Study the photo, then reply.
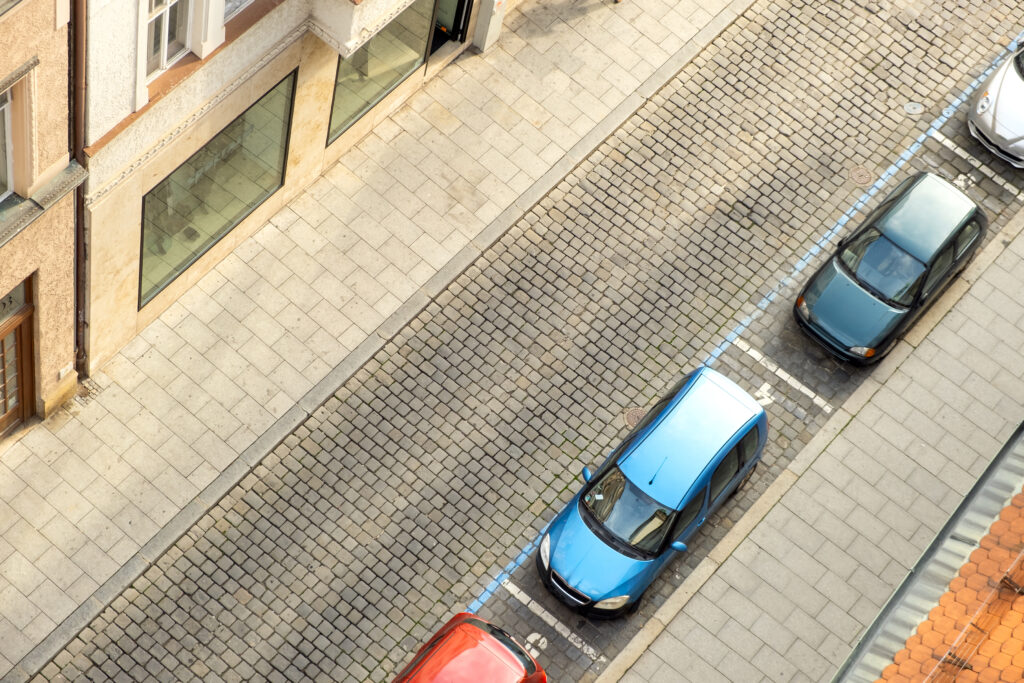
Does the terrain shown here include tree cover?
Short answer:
No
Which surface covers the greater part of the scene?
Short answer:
paved ground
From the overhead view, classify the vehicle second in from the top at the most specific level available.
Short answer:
car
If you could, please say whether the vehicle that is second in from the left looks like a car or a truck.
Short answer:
car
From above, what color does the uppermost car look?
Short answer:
white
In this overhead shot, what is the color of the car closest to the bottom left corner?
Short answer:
red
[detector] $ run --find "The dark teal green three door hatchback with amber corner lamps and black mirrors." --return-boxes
[790,175,984,369]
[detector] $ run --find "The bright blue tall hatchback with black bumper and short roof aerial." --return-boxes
[535,367,778,620]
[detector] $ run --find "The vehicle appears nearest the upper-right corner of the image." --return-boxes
[959,32,1024,174]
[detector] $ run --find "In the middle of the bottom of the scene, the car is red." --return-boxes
[394,611,556,683]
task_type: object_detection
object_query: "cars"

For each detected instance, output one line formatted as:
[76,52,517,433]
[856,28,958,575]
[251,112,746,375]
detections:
[394,611,556,683]
[790,175,984,369]
[959,32,1024,174]
[535,367,778,620]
